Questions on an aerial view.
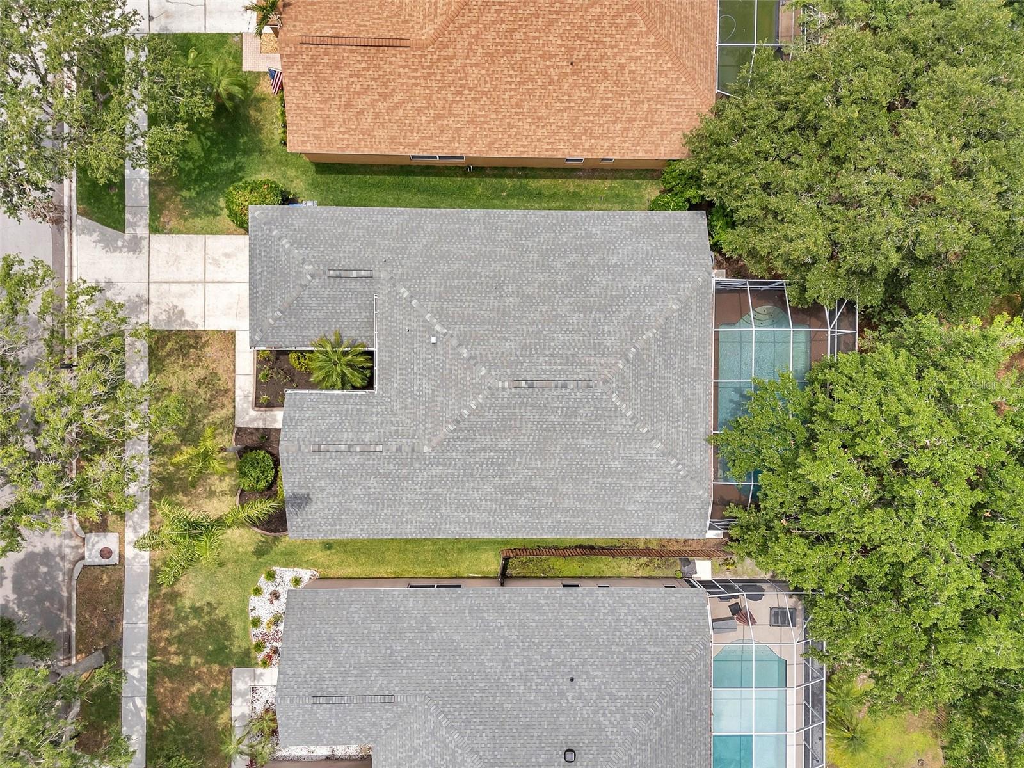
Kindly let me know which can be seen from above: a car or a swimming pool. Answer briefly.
swimming pool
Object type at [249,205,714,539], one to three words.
house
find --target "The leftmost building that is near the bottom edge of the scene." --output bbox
[277,579,712,768]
